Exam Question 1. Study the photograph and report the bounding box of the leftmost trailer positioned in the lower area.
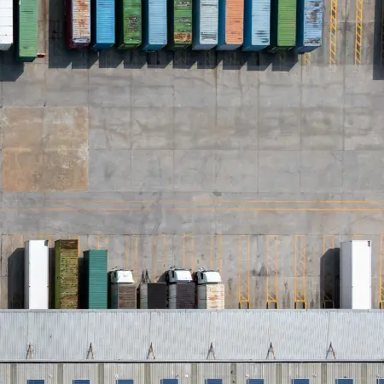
[21,240,48,309]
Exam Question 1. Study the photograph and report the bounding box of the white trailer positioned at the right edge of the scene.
[335,240,372,309]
